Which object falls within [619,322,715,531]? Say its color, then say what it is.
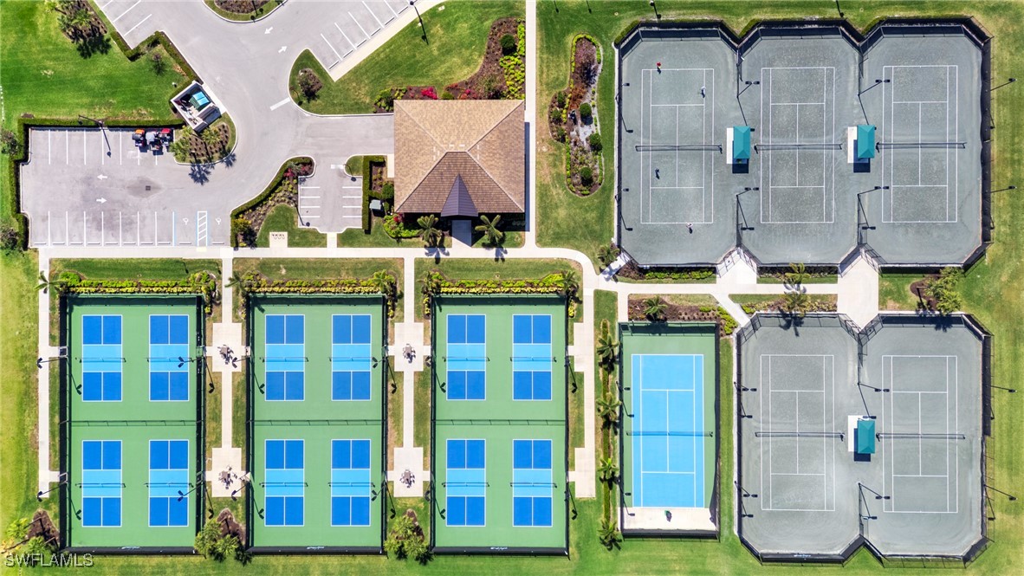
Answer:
blue tennis court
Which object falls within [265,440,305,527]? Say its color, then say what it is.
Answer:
blue sports court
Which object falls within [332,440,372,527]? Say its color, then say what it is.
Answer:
blue sports court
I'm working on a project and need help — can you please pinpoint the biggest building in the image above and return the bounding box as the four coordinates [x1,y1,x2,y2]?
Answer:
[393,98,526,217]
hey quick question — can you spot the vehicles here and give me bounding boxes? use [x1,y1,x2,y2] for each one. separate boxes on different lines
[146,131,160,150]
[133,129,147,148]
[161,129,173,148]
